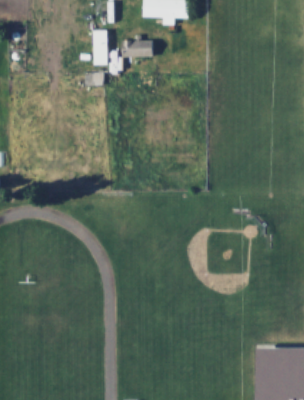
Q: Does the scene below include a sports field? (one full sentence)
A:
Yes, a sports field appears in the view.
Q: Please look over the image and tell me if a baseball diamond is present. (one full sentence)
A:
Yes, the photo shows a baseball diamond.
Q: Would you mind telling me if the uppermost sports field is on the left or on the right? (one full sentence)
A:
It is on the right.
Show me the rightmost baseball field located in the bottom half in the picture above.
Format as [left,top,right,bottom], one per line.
[188,224,257,294]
